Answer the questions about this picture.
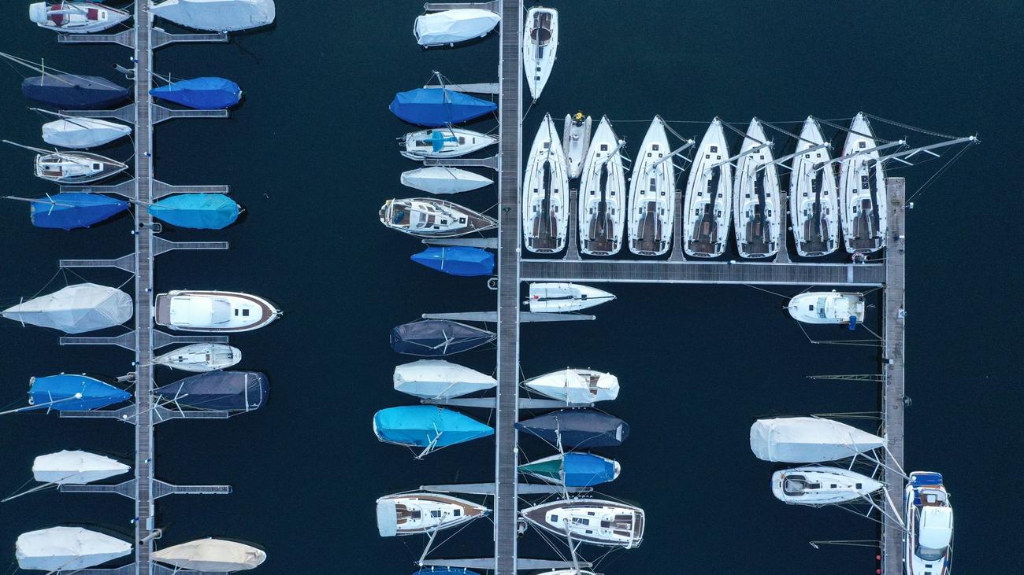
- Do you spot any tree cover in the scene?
No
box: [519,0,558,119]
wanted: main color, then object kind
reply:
white boat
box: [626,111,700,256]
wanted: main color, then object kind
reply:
white boat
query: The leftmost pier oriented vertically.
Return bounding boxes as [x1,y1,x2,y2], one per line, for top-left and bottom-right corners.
[122,0,158,575]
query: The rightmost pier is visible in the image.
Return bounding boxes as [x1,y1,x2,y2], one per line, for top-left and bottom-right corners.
[878,178,906,575]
